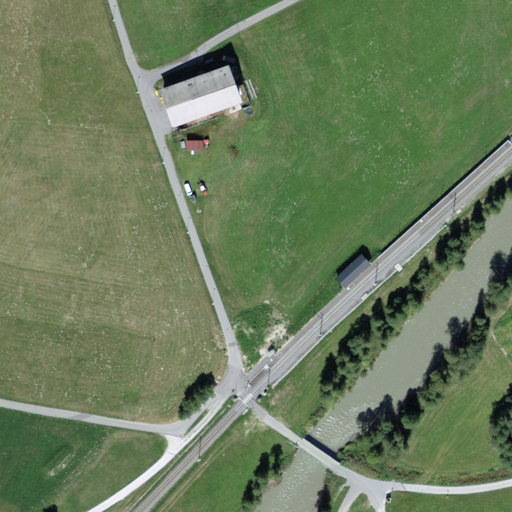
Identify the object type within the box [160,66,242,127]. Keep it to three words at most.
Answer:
barn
